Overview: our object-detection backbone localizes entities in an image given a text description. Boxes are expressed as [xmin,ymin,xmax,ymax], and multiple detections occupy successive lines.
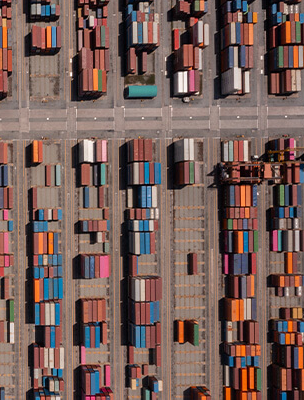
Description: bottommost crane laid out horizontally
[210,163,281,183]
